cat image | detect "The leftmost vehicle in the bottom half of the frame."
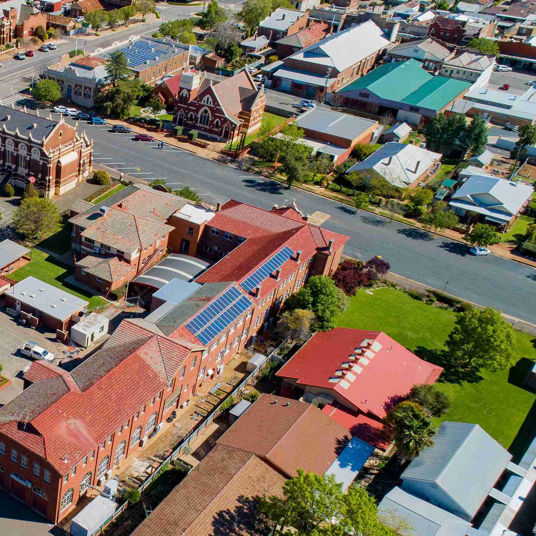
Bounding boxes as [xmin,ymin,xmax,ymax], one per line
[21,341,55,363]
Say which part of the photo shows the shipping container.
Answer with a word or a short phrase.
bottom left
